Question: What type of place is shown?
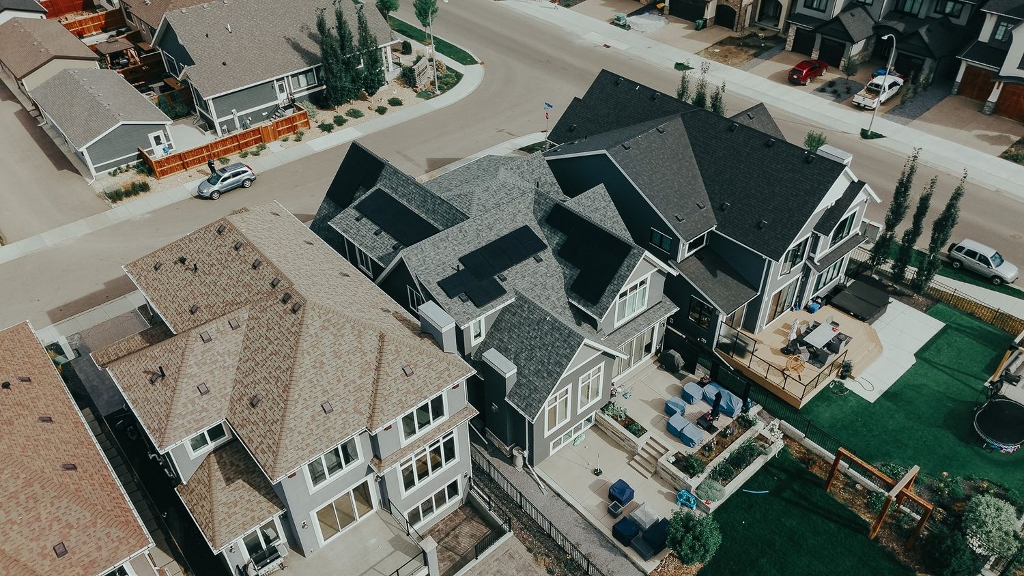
residential area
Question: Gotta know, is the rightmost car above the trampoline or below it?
above it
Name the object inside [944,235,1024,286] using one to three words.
car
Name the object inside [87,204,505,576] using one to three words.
house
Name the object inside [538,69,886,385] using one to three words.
house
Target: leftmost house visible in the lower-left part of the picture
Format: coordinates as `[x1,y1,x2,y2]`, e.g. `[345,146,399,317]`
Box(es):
[0,319,159,576]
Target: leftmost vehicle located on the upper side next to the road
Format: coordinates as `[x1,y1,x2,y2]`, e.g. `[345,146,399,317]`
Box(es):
[194,161,259,200]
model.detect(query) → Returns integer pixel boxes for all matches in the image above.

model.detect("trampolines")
[968,399,1024,461]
